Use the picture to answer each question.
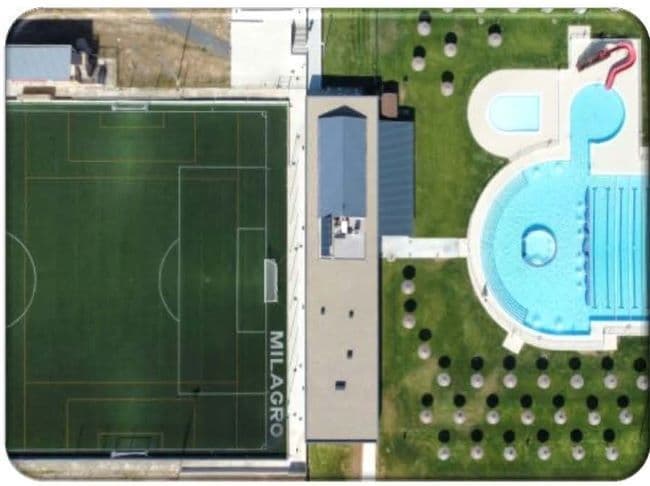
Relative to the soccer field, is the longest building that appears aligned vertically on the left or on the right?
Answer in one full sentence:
The soccer field has the longest building that appears aligned vertically on its right side.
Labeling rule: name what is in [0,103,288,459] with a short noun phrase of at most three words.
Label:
soccer field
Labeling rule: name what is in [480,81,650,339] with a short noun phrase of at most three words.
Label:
swimming pool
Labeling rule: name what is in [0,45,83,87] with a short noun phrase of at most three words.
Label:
building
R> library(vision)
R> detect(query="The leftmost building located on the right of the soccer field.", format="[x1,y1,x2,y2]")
[308,96,380,441]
